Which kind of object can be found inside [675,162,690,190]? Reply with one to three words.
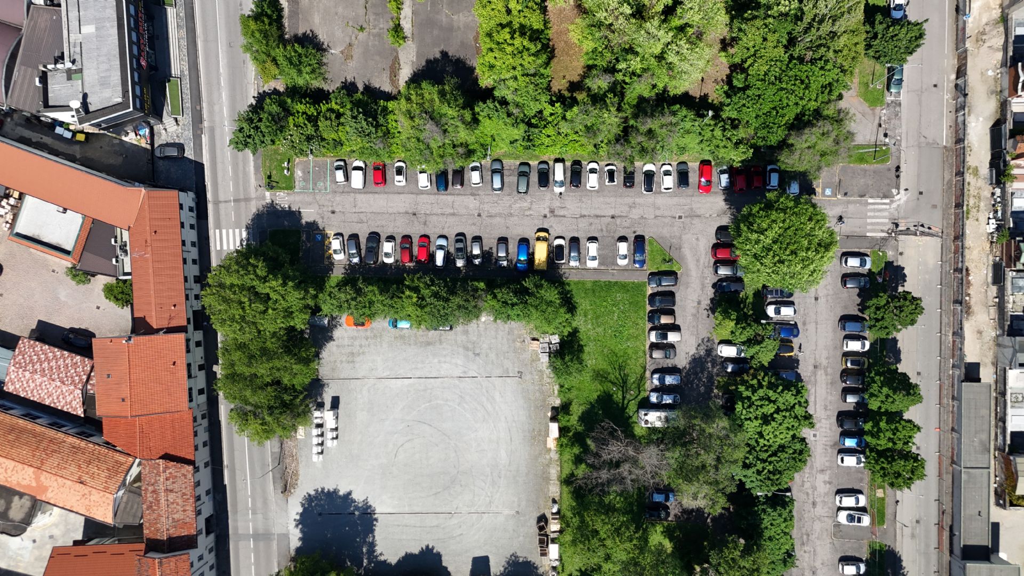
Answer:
car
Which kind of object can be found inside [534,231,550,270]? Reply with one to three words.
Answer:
vehicle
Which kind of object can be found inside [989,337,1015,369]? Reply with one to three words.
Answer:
house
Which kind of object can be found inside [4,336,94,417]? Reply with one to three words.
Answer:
house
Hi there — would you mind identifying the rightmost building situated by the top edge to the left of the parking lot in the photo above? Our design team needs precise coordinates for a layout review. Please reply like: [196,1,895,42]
[41,0,157,140]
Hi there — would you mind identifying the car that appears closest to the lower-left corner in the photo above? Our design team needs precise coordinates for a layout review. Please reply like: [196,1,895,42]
[61,330,95,349]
